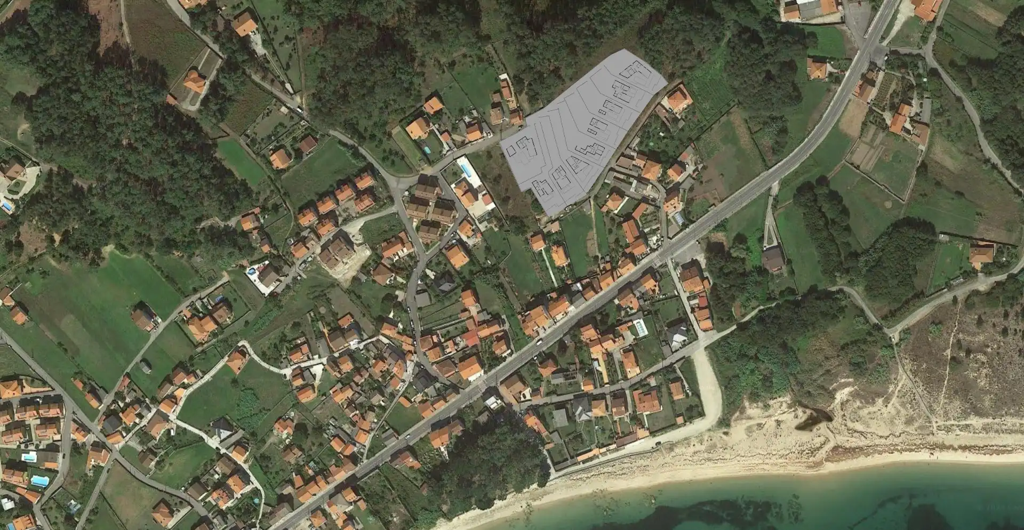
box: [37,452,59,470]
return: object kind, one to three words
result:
building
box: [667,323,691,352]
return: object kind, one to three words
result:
house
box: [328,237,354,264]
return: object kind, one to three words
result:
building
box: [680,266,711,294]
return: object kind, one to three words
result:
house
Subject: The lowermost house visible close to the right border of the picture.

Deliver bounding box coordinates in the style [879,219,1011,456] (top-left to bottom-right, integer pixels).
[969,242,996,279]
